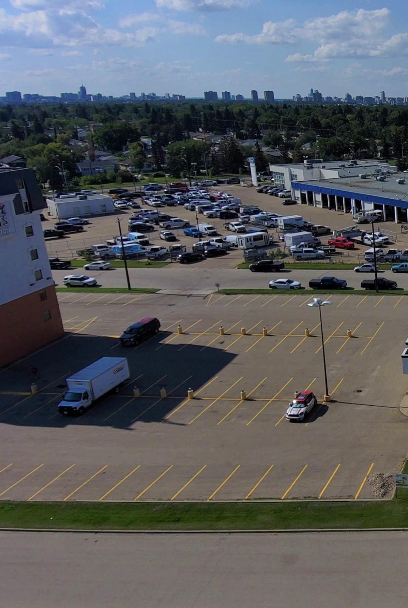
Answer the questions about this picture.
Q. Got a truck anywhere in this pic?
Yes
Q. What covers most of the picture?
paved ground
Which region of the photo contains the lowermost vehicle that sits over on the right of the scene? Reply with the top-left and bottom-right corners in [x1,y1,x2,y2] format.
[281,394,320,423]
